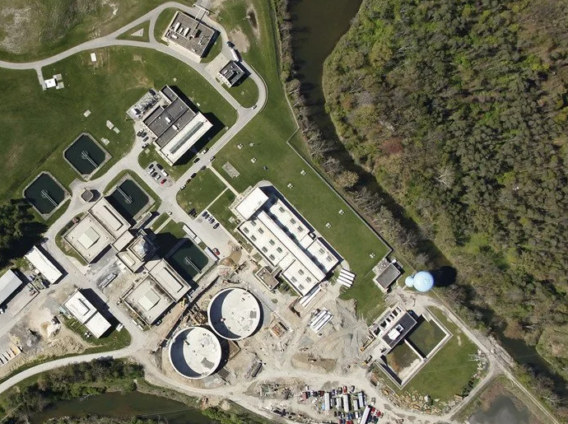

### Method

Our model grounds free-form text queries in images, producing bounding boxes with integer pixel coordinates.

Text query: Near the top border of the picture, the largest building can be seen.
[161,10,215,64]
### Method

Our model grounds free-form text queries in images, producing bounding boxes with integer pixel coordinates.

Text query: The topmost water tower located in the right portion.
[404,272,434,292]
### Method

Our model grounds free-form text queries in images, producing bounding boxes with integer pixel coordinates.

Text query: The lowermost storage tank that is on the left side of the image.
[168,326,223,379]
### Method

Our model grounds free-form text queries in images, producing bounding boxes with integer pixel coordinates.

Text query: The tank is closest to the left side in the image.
[22,172,71,220]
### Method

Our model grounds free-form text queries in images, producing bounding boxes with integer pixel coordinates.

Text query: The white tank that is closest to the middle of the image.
[207,286,263,340]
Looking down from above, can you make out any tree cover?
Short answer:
Yes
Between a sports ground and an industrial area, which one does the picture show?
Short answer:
industrial area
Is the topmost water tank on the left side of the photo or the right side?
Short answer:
left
